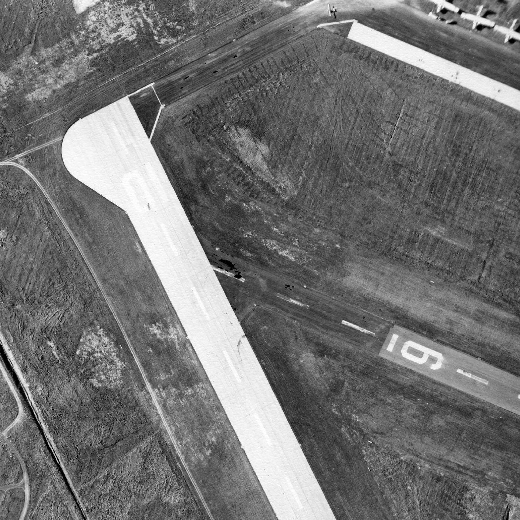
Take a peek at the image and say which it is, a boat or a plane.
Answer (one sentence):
There is a plane in the scene.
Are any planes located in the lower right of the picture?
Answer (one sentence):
No, I can find no plane in the lower right of the picture.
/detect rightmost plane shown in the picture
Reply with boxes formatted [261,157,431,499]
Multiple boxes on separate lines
[496,17,520,41]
